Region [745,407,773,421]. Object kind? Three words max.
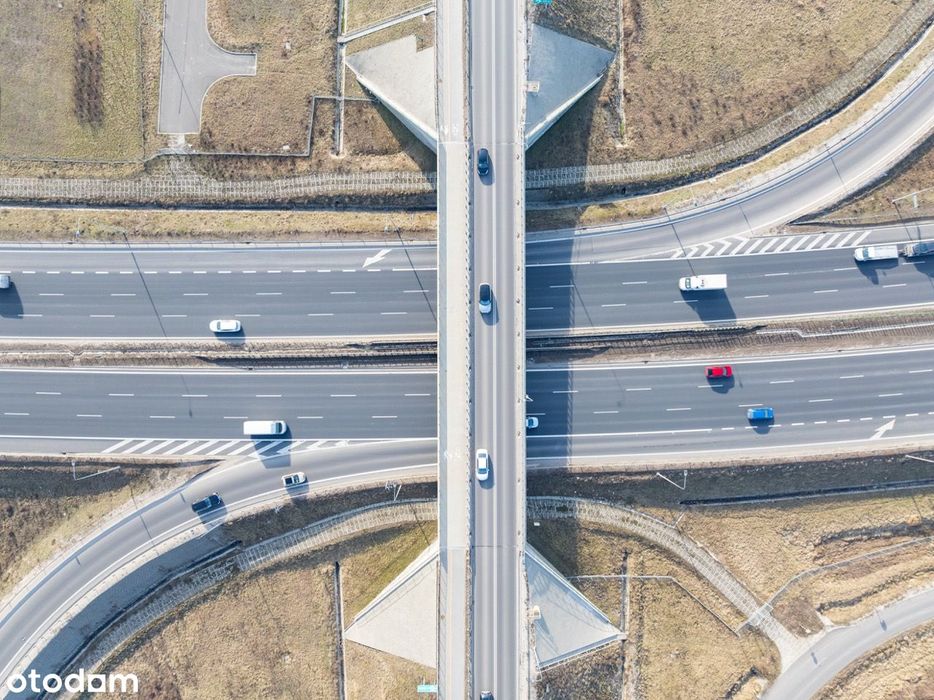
vehicle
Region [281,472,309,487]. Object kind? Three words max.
car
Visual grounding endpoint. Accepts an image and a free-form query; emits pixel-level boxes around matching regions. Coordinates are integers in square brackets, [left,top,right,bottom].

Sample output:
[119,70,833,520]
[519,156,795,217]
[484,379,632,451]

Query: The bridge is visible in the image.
[341,49,626,640]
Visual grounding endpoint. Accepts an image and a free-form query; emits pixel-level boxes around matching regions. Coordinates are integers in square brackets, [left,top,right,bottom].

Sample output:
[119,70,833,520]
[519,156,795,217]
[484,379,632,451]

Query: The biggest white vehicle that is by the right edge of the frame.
[852,246,898,262]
